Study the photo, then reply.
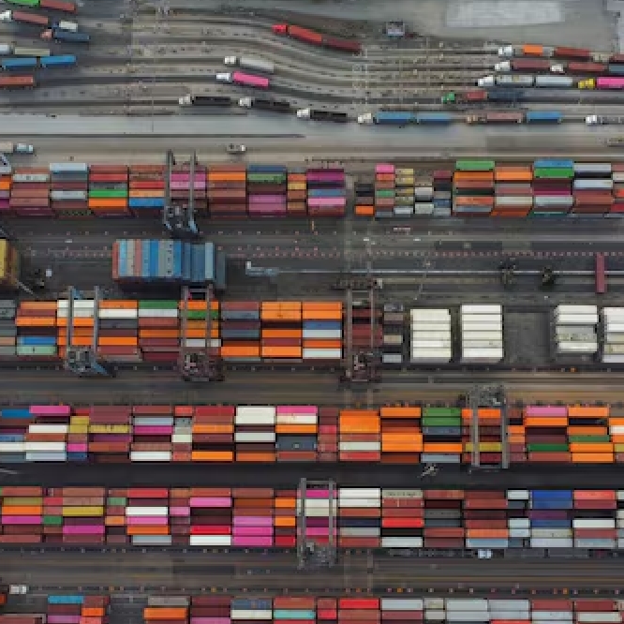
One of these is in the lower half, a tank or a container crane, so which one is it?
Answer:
container crane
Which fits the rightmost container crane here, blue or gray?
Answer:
gray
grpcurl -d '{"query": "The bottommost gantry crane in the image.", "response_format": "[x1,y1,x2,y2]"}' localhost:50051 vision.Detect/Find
[297,480,340,568]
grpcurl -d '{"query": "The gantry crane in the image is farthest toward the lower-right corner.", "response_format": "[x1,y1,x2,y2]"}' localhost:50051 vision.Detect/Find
[458,386,509,471]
